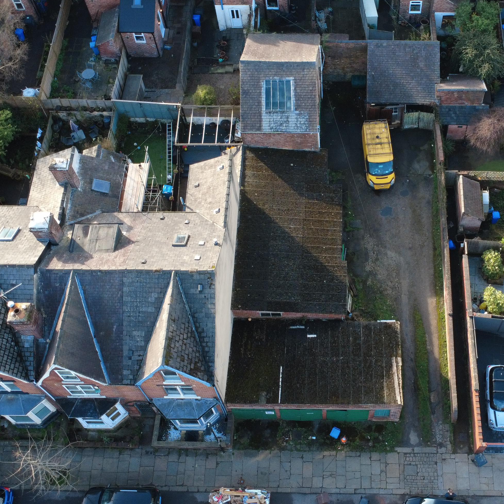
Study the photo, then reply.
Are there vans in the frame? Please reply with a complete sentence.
Yes, there's a van here.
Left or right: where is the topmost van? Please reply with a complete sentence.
You can find the topmost van on the right side of the picture.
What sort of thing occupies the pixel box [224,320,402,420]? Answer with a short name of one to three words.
building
